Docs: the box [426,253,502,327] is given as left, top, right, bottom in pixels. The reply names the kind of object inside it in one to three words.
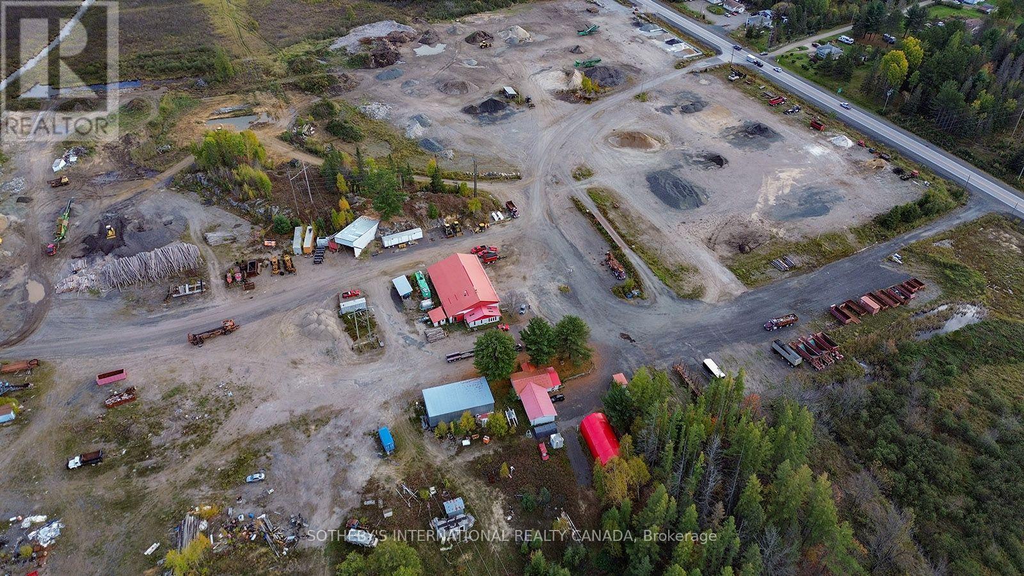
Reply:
building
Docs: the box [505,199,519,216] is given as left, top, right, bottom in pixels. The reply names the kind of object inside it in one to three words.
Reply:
vehicle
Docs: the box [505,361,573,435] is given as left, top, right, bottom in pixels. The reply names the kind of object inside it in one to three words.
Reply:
house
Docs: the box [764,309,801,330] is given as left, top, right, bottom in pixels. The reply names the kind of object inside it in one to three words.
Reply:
truck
